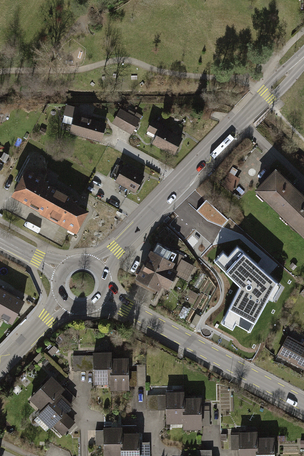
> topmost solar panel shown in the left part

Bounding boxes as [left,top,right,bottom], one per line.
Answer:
[94,370,108,384]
